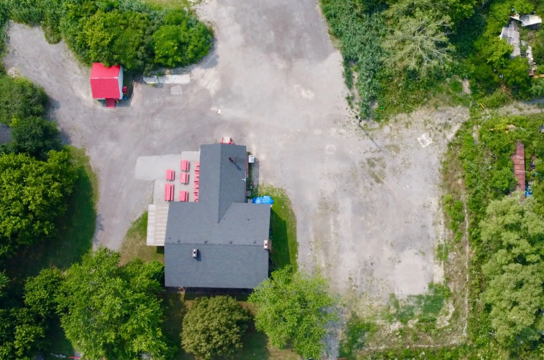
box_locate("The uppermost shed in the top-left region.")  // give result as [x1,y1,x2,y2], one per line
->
[91,63,123,107]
